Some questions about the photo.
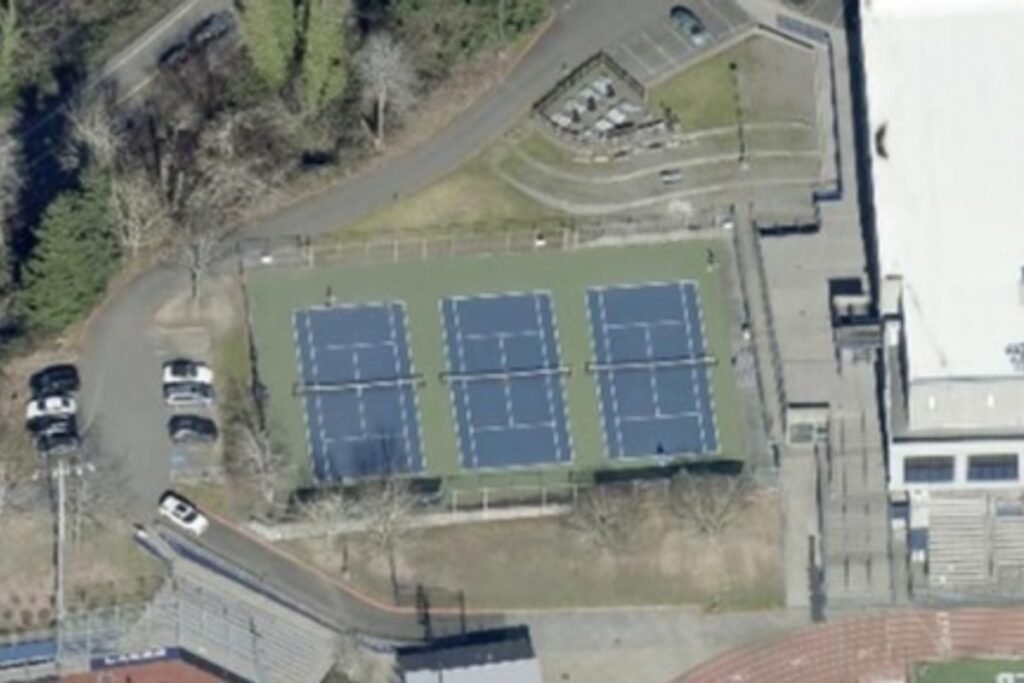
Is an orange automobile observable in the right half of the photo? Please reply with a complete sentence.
No, no orange automobile is visible in the right half of the photo.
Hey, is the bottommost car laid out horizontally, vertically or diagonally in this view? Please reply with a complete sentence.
In this picture, the bottommost car lies diagonally.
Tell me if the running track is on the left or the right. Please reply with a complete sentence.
It is on the right.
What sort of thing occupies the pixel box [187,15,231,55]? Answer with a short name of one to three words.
car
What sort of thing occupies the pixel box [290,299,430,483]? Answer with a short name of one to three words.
tennis court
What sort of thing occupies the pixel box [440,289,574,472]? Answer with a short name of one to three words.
tennis court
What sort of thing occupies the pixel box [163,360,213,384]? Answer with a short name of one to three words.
car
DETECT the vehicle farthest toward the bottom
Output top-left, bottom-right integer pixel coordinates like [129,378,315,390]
[158,498,205,535]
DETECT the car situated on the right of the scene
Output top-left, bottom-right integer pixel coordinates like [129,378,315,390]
[671,11,709,46]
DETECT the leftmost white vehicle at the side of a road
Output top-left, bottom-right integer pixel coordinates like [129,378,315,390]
[28,395,76,418]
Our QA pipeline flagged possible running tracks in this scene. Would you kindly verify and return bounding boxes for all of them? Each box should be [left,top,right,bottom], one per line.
[670,606,1024,683]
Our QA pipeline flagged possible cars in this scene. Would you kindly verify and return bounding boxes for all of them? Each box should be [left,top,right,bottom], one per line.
[671,11,709,46]
[187,15,231,55]
[170,420,218,443]
[37,431,83,454]
[158,498,205,535]
[29,415,76,438]
[27,369,78,394]
[165,383,213,406]
[163,360,213,384]
[28,395,76,418]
